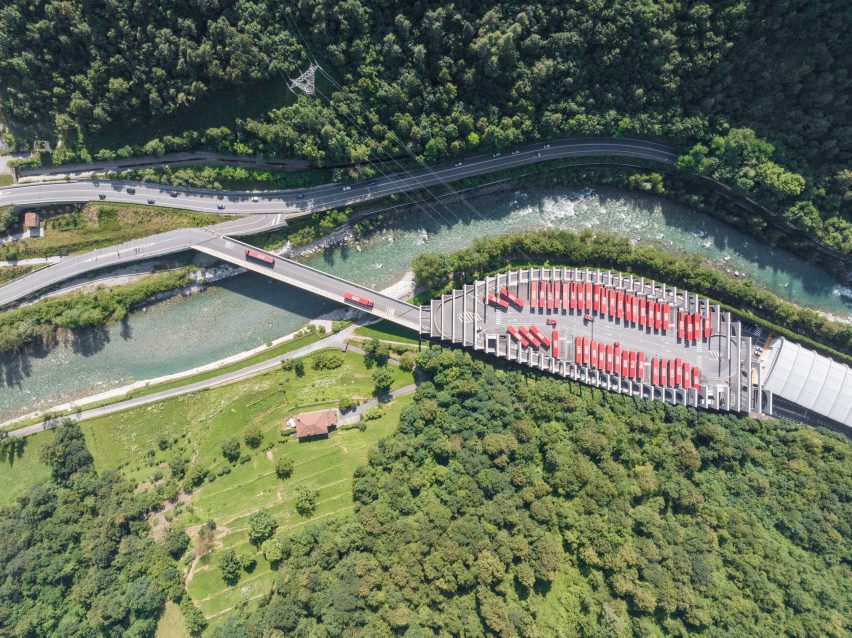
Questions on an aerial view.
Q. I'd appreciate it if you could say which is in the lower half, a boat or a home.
home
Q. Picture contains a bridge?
Yes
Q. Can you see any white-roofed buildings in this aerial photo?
Yes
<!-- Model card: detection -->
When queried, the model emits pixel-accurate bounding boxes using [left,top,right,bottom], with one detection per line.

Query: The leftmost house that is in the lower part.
[295,408,338,438]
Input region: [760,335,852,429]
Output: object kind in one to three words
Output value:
building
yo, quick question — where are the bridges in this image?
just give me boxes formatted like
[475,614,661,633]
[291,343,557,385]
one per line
[190,227,419,330]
